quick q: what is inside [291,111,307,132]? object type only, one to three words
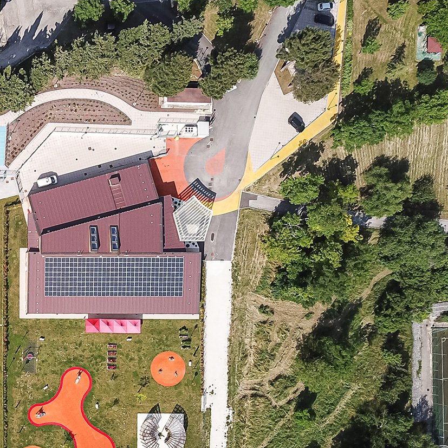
car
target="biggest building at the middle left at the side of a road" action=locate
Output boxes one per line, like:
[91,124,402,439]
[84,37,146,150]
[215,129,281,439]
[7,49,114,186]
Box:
[26,163,208,314]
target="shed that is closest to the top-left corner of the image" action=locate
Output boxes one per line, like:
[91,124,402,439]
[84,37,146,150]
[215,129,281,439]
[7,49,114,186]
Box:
[157,85,211,110]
